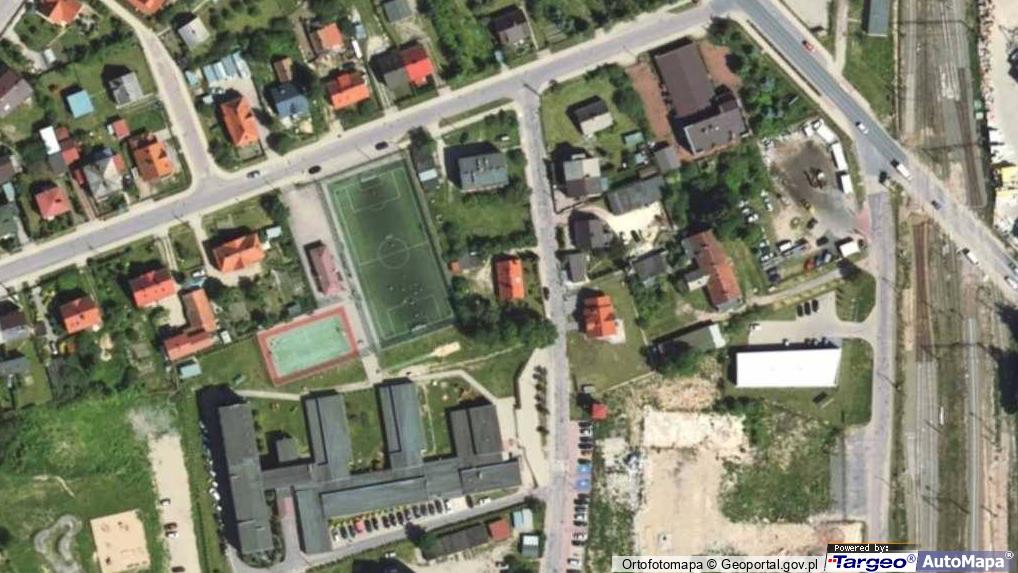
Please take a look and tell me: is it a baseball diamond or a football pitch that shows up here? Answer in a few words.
football pitch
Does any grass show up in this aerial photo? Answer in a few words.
Yes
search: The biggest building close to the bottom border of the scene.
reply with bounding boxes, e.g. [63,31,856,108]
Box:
[219,381,522,553]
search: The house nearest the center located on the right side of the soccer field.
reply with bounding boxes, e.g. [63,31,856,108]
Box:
[495,258,525,301]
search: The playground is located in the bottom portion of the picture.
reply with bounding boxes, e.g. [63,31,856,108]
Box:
[91,509,151,573]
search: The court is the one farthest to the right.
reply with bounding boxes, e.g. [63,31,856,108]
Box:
[257,307,359,385]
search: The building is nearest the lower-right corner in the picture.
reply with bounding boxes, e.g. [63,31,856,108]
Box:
[737,349,839,388]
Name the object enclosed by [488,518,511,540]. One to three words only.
shed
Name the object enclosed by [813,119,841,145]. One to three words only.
truck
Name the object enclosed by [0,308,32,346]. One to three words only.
house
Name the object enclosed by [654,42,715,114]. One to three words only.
building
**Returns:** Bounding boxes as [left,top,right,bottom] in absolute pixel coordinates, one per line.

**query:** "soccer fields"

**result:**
[328,158,453,348]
